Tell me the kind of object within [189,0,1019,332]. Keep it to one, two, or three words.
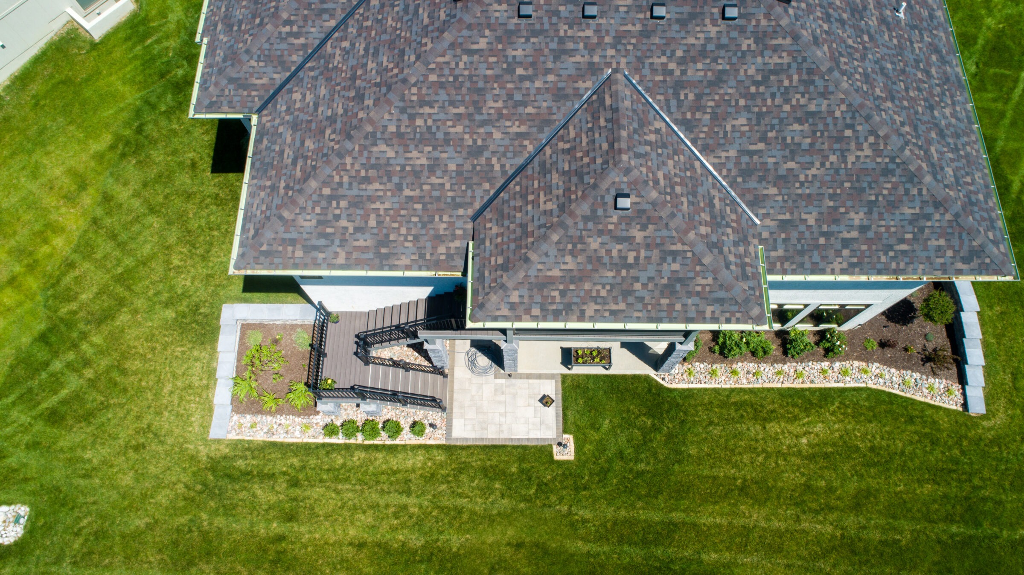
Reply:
house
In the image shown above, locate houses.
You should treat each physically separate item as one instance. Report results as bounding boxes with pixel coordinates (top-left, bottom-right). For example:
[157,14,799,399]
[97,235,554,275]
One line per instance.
[0,0,96,81]
[189,0,1019,332]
